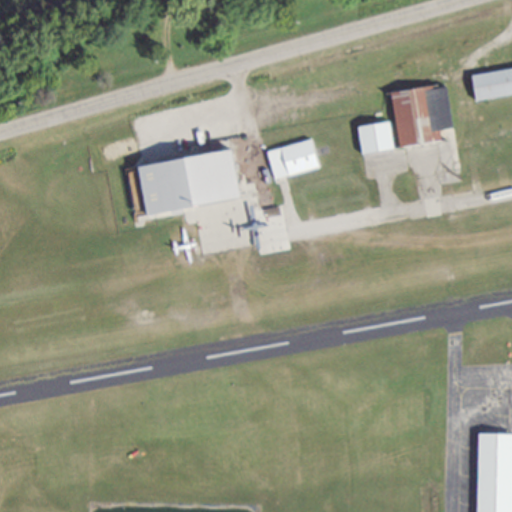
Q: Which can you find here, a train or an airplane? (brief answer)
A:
airplane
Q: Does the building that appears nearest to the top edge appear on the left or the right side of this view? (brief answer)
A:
right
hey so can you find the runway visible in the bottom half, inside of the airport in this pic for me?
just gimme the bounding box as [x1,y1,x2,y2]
[0,290,512,406]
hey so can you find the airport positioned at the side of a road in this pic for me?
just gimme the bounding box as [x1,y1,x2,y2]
[0,131,512,512]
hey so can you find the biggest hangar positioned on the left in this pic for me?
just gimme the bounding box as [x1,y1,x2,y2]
[138,150,240,214]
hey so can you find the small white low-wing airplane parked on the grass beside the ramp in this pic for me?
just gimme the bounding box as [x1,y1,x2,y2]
[171,227,198,264]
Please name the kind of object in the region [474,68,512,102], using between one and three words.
building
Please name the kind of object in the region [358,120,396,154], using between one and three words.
hangar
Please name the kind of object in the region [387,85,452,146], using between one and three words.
hangar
